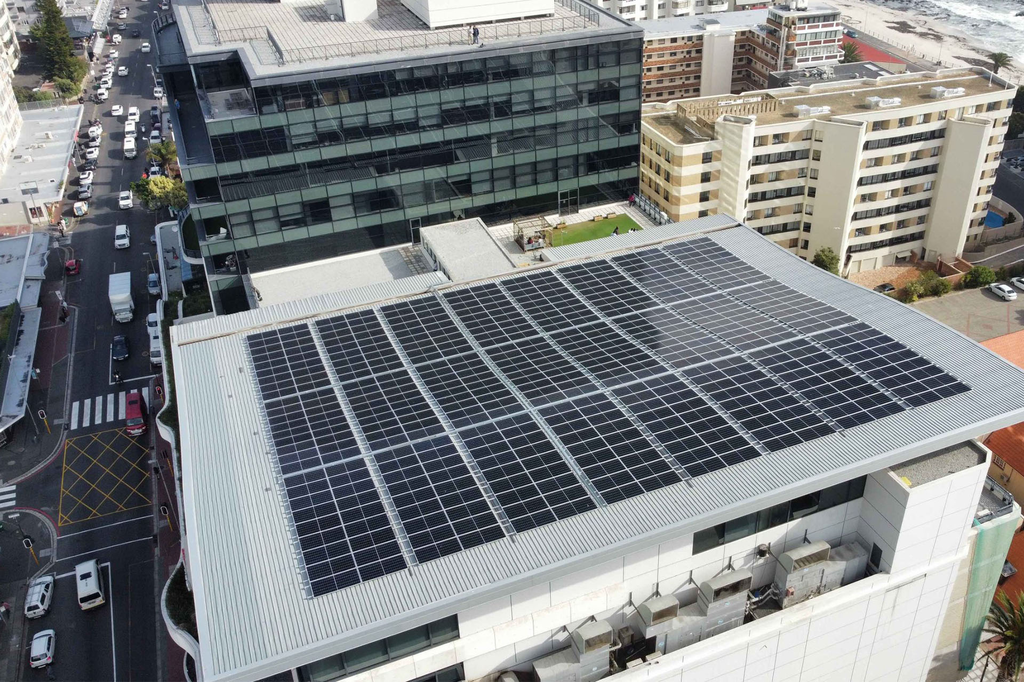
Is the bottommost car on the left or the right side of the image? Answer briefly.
left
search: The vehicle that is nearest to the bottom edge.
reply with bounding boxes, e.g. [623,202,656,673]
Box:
[26,627,60,674]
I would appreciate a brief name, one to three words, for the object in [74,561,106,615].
vehicle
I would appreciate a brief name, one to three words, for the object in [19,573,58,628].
truck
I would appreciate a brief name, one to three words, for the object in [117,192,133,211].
vehicle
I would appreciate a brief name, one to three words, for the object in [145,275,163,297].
car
